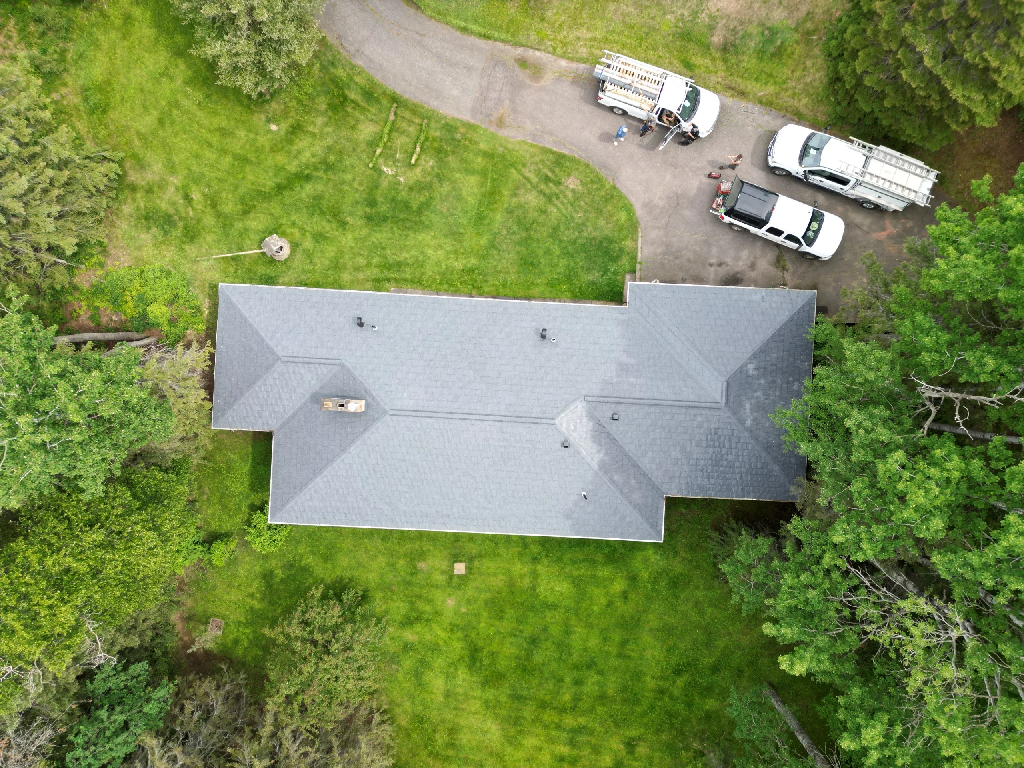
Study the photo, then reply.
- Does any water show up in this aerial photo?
No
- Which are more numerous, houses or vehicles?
vehicles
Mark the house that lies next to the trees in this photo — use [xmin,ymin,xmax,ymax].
[210,280,818,544]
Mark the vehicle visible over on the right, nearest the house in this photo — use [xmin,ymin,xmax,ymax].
[707,170,843,263]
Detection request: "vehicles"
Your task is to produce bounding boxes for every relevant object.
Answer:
[594,52,720,151]
[763,124,935,217]
[707,170,843,263]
